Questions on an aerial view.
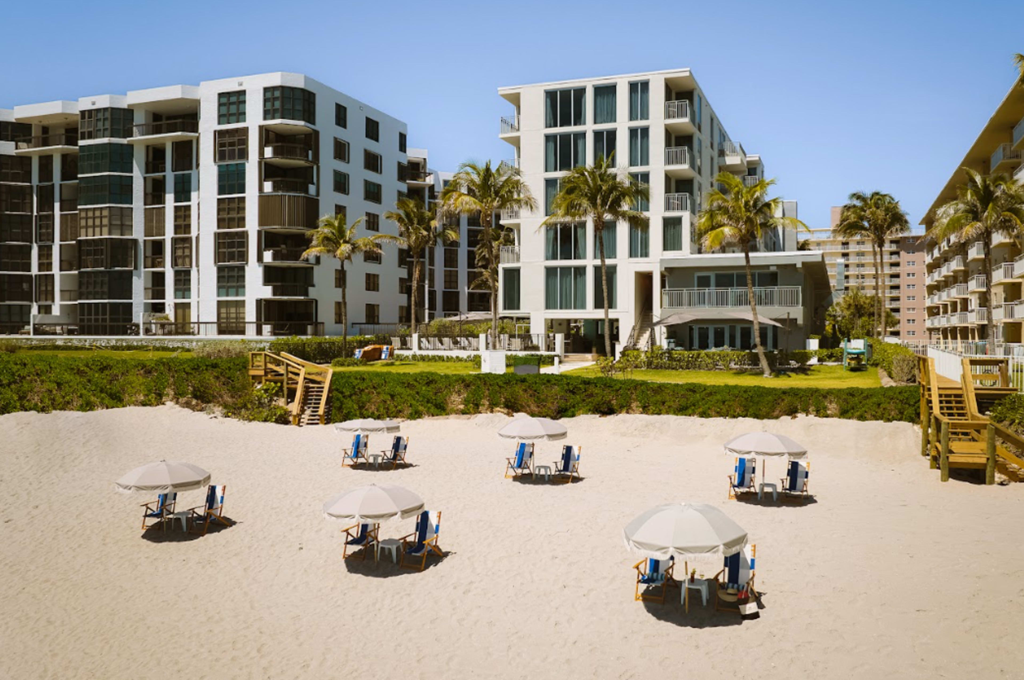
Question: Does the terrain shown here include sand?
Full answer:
Yes, some sand is visible.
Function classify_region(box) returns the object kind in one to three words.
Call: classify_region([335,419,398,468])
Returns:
umbrella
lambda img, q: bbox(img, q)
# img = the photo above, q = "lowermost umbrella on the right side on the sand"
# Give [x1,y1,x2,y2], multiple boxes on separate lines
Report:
[624,505,752,613]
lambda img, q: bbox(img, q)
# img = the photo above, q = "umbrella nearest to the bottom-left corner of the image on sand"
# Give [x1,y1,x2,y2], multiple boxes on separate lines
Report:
[115,459,211,535]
